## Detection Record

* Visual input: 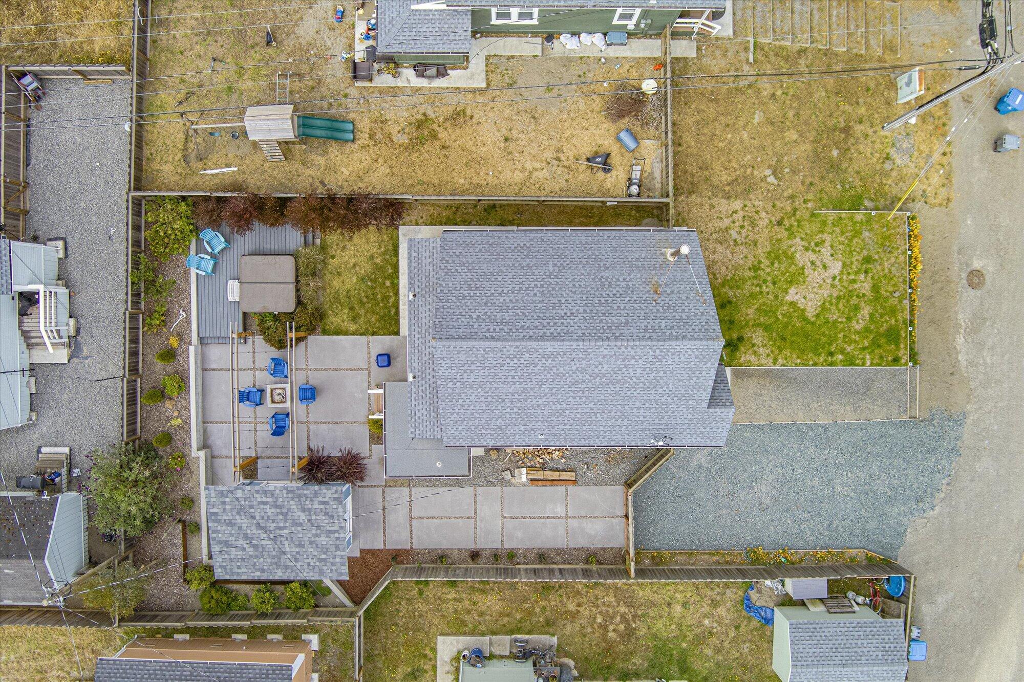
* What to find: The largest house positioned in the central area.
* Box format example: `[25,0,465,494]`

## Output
[383,227,733,479]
